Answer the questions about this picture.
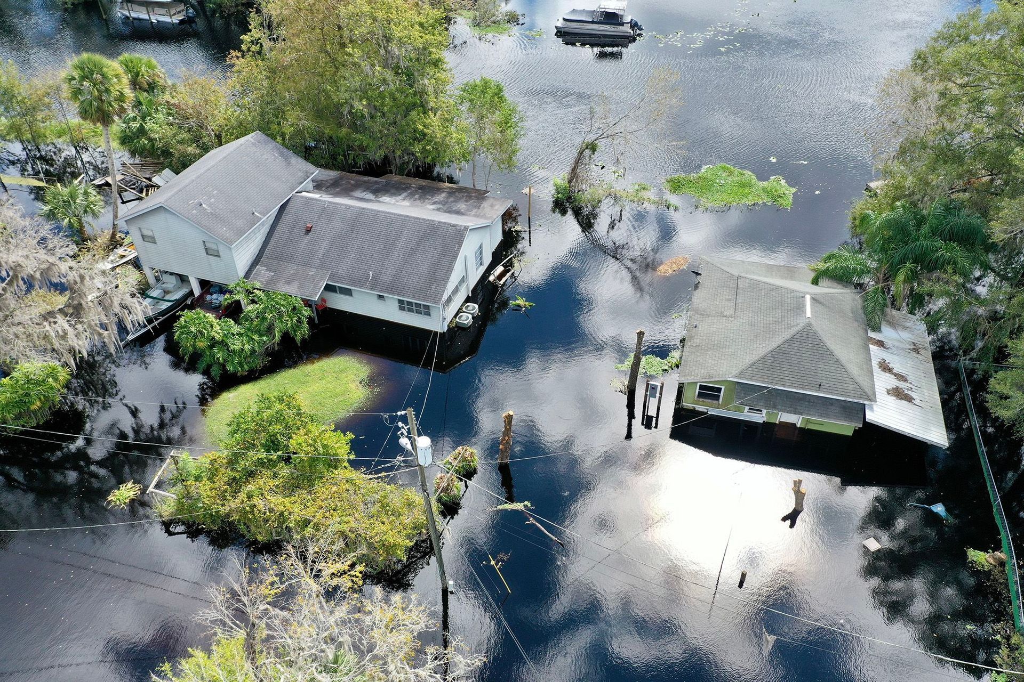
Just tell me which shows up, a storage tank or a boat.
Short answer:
boat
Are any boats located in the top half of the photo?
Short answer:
Yes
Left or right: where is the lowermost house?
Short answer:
right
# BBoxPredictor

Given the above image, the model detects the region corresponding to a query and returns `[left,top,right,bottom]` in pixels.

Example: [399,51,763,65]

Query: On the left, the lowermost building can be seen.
[110,131,513,354]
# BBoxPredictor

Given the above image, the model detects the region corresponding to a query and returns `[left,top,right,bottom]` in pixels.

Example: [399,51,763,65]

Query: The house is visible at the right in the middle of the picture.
[678,255,948,451]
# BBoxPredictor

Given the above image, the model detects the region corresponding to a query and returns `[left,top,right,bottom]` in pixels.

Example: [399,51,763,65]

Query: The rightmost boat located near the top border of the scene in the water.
[561,2,641,44]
